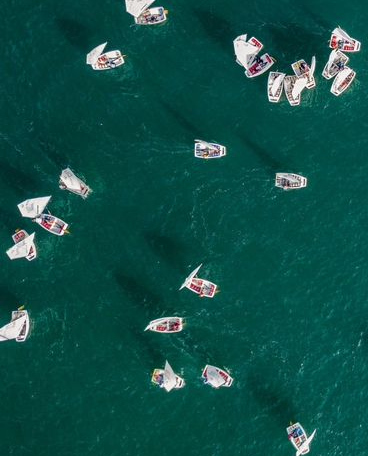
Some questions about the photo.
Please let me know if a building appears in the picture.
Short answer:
No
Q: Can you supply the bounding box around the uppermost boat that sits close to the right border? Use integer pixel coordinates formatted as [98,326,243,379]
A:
[327,27,362,52]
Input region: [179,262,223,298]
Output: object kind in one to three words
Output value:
boat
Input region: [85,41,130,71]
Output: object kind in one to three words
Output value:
boat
